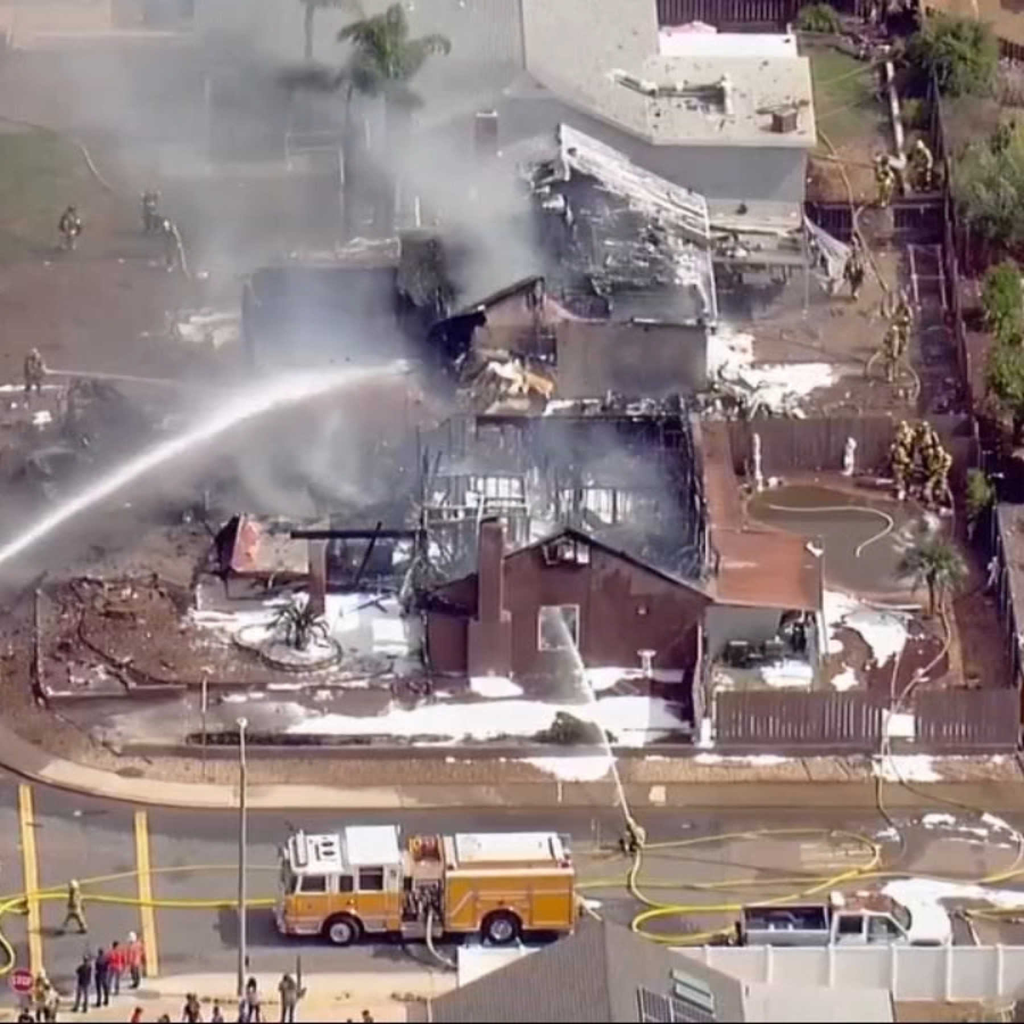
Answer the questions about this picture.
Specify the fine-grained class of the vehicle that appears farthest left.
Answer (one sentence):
Looking closely, the vehicle that appears farthest left is a truck.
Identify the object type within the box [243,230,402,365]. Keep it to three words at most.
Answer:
building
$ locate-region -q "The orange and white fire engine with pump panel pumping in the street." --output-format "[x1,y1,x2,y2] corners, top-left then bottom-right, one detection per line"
[267,820,583,942]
